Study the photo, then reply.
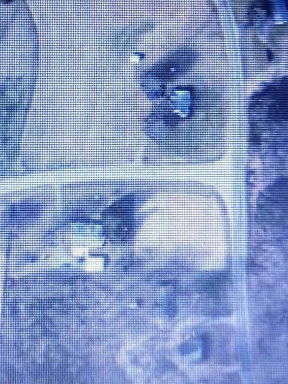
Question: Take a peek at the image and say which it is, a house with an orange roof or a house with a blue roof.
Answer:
house with a blue roof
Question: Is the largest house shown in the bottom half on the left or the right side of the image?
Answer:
left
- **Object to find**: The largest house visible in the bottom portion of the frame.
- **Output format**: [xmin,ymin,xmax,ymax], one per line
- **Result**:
[71,223,103,248]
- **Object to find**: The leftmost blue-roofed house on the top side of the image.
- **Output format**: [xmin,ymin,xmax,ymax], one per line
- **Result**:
[173,90,192,116]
